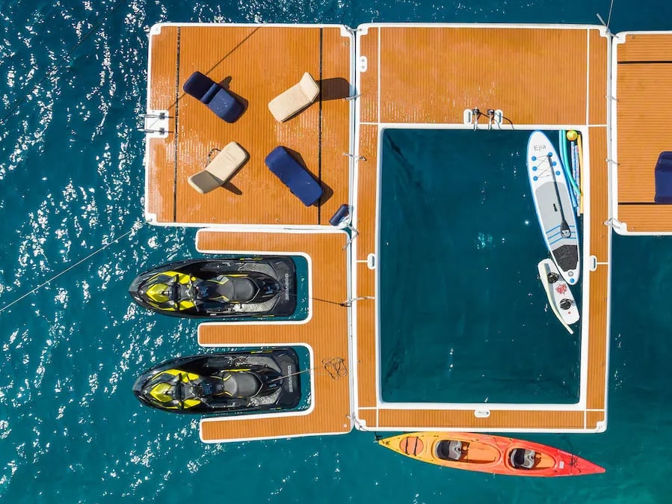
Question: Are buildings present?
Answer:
No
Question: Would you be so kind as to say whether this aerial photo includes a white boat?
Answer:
No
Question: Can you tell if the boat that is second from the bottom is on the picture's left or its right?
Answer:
left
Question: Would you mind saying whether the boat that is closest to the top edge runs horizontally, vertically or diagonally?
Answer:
horizontally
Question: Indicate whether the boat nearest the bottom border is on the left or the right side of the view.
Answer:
right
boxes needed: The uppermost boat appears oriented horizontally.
[130,255,302,318]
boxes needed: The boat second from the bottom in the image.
[133,346,305,414]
